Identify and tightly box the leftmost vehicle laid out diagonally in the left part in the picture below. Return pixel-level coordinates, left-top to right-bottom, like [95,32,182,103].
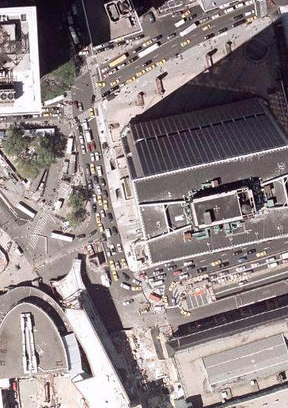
[17,202,36,218]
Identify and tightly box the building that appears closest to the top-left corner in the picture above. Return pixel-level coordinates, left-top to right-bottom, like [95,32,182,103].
[0,7,44,80]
